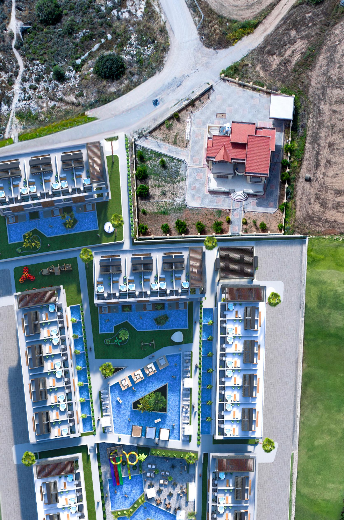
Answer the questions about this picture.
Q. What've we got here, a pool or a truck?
pool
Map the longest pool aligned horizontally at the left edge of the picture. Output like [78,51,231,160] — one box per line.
[5,203,99,244]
